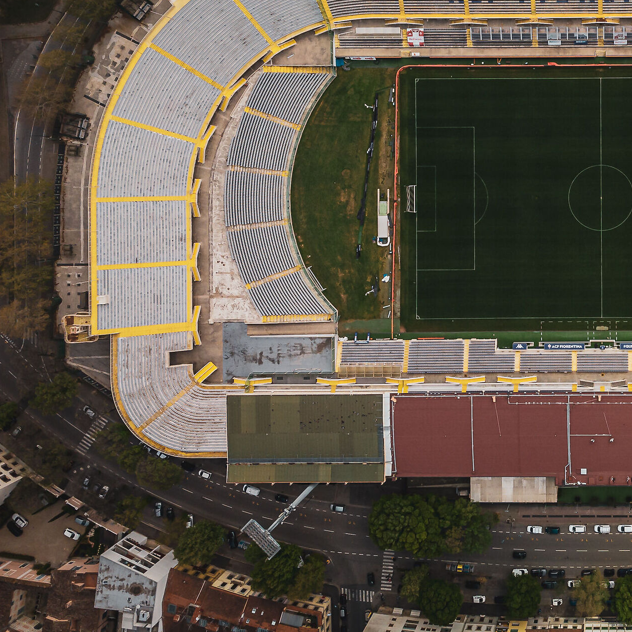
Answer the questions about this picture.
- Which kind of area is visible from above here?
sports ground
